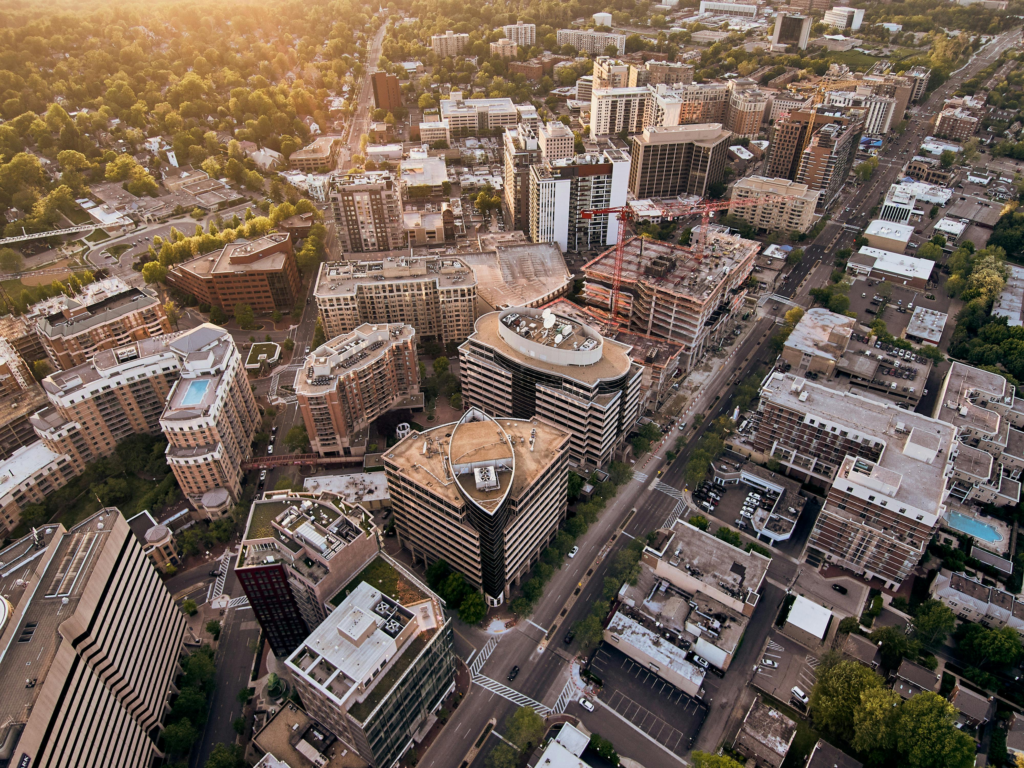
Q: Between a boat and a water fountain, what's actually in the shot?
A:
water fountain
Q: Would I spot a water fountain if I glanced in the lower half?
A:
Yes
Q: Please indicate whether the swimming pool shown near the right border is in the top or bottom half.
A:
bottom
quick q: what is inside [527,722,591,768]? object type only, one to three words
building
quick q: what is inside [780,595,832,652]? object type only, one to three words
building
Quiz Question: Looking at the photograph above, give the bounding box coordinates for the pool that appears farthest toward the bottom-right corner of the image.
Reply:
[942,507,1005,545]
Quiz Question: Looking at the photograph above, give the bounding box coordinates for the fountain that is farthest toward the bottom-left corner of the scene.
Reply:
[255,669,294,707]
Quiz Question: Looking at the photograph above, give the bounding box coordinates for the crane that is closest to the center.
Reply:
[581,198,705,267]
